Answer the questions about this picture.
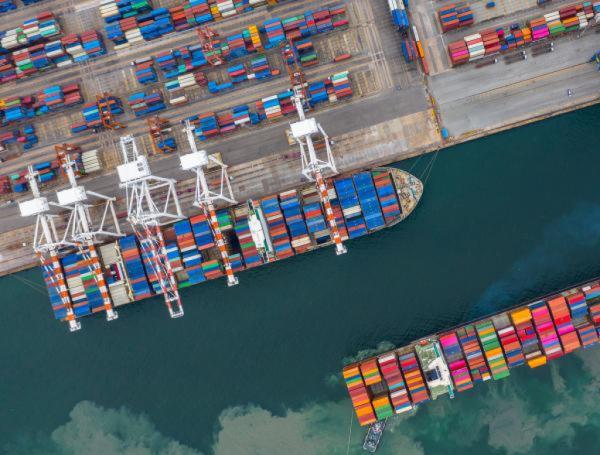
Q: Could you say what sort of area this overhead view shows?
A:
port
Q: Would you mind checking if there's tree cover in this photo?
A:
No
